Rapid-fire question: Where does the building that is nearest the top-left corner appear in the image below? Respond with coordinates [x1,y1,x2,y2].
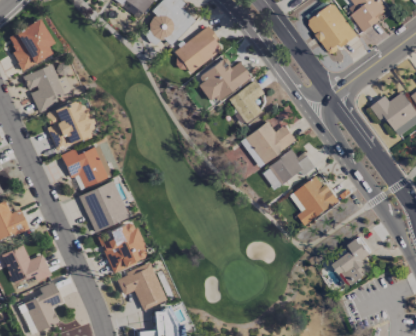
[10,19,60,69]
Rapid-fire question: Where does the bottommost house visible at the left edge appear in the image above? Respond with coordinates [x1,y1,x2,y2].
[18,284,62,334]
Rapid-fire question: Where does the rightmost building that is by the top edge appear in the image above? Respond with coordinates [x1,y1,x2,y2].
[351,0,386,32]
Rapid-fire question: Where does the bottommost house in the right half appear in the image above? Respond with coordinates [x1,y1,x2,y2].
[332,237,376,287]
